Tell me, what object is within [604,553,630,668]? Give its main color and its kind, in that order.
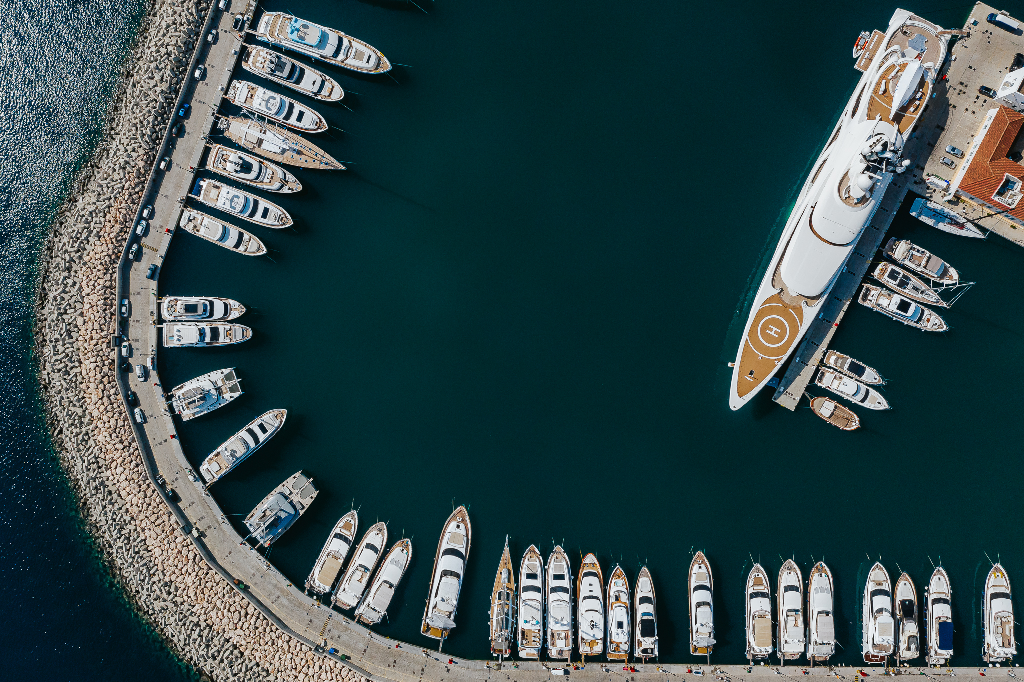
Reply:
white boat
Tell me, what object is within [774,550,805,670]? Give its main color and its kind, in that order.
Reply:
white boat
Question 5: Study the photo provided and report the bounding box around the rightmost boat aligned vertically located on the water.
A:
[978,552,1017,671]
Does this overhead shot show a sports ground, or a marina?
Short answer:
marina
